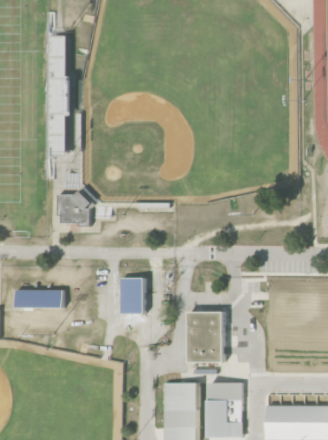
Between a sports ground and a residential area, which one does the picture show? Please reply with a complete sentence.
The area seen from above is a sports ground.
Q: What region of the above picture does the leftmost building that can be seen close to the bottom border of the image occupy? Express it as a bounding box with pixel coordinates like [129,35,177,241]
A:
[164,382,200,440]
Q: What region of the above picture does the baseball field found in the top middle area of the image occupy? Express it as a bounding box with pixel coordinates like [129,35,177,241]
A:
[88,0,300,200]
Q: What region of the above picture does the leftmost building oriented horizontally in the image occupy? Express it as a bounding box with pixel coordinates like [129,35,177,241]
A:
[14,290,65,308]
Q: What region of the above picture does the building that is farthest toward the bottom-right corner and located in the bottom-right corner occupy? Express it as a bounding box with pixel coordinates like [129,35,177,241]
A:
[264,406,328,440]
